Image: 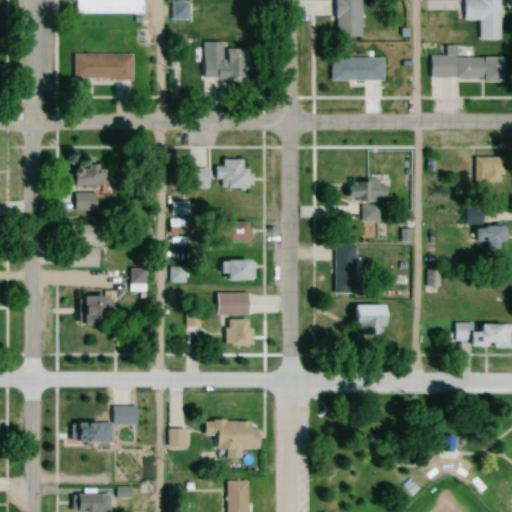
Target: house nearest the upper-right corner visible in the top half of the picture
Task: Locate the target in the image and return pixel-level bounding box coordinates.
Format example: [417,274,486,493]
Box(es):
[466,0,503,40]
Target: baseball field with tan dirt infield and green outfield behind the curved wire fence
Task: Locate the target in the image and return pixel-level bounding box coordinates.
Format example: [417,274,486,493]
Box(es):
[404,477,491,512]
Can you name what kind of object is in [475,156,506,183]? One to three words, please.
house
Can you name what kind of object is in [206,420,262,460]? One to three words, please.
house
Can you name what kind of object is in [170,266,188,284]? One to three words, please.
building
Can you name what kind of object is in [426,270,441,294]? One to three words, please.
shed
